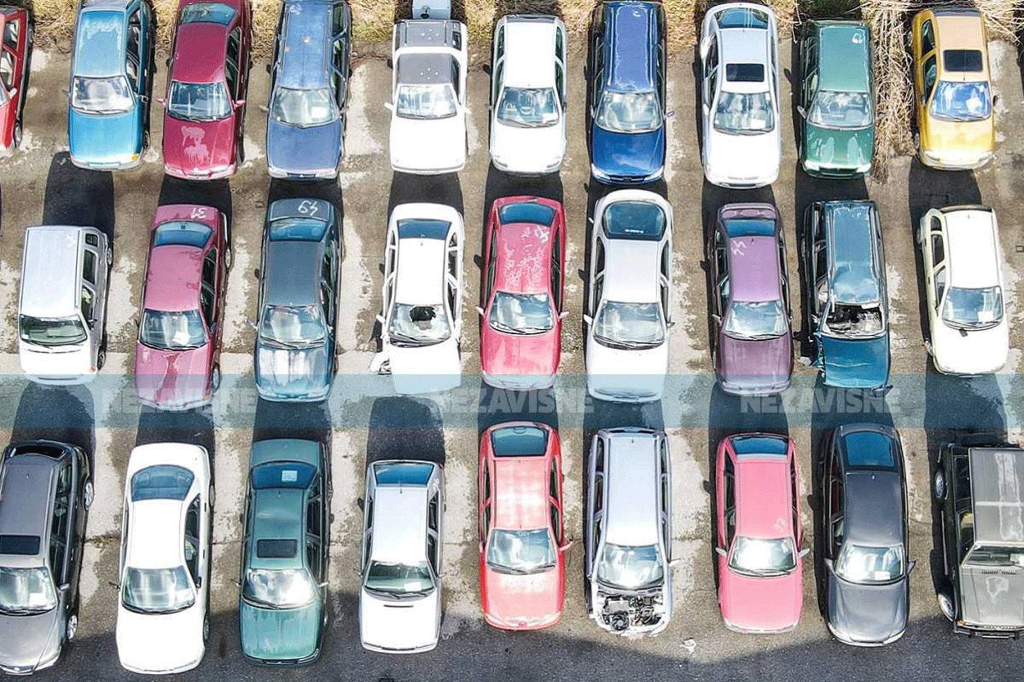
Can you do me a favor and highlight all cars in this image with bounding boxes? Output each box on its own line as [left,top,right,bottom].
[938,445,1024,637]
[580,196,676,404]
[476,200,568,391]
[128,209,231,410]
[384,18,470,177]
[590,430,684,635]
[107,446,213,674]
[803,203,900,393]
[485,17,572,179]
[917,205,1021,379]
[705,205,800,395]
[260,0,347,183]
[60,5,151,173]
[698,6,787,191]
[712,434,811,634]
[909,9,1002,173]
[0,443,85,674]
[0,0,29,156]
[374,211,470,395]
[817,428,923,646]
[587,4,675,188]
[798,21,885,181]
[248,203,343,403]
[352,463,448,653]
[477,424,571,631]
[227,442,328,666]
[156,0,250,184]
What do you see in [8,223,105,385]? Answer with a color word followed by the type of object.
white van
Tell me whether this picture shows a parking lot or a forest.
parking lot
